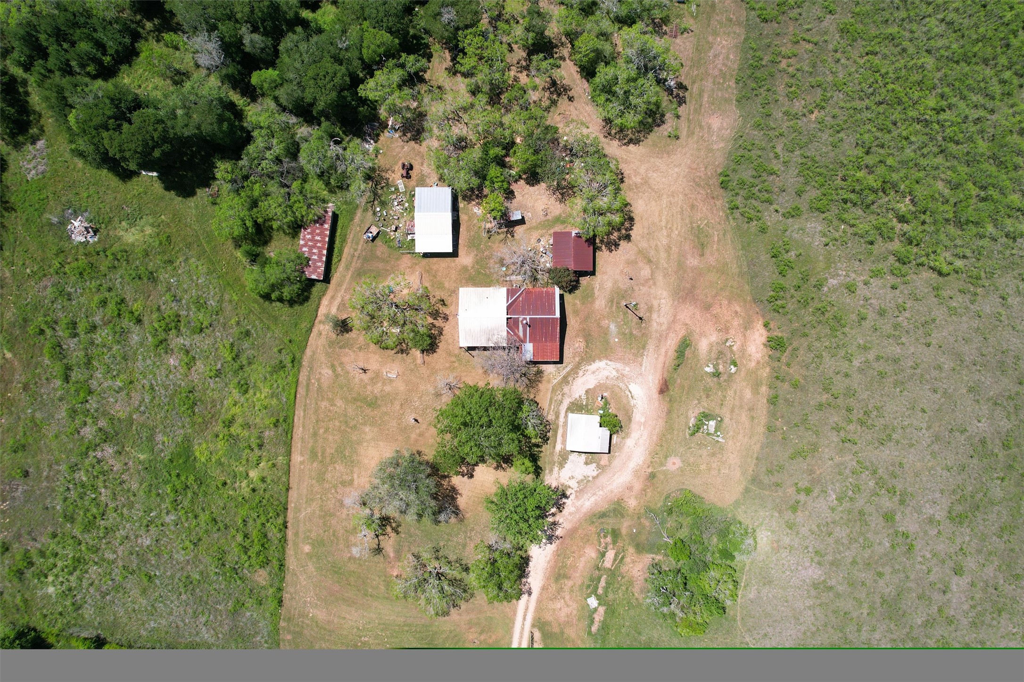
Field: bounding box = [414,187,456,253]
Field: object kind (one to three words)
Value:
building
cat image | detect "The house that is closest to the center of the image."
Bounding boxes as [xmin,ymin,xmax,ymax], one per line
[457,287,560,361]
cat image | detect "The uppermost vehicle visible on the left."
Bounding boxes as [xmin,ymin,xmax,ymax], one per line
[399,160,411,178]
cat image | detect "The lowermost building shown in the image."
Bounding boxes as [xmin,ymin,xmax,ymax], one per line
[566,413,610,453]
